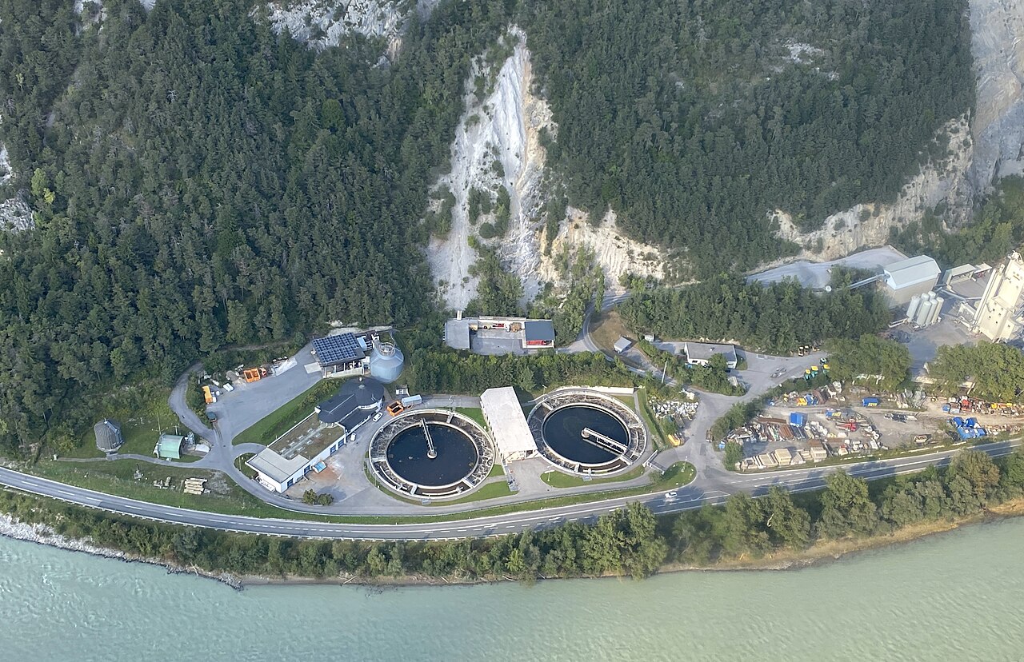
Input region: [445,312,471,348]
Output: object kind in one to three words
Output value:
building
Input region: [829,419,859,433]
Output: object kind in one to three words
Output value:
vehicle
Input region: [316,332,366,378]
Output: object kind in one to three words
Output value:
shed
